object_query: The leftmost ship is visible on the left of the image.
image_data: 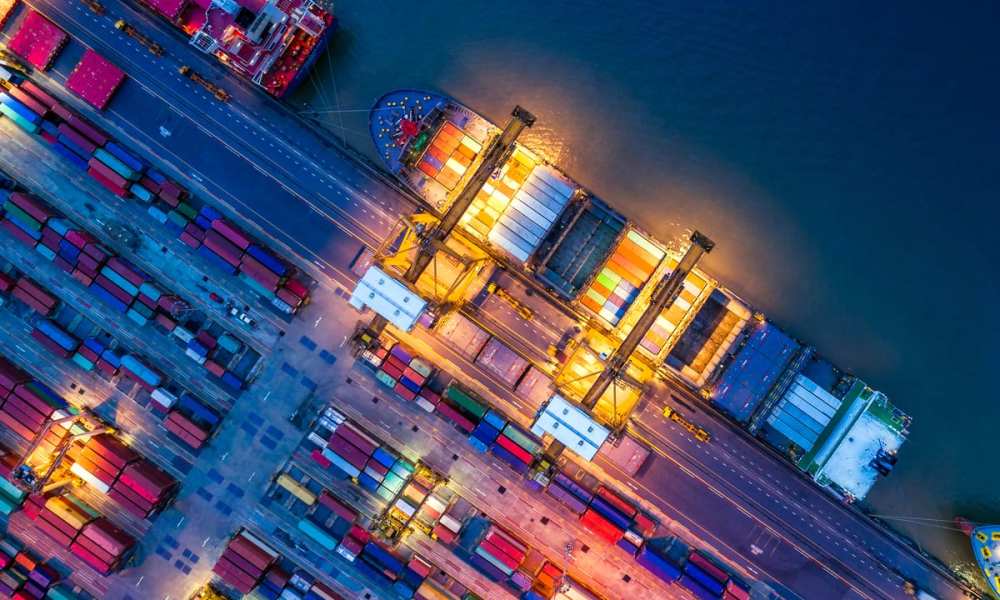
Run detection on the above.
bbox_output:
[145,0,337,98]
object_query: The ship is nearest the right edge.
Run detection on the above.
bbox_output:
[941,517,1000,598]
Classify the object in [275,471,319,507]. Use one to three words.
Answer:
shipping container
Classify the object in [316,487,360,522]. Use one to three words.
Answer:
shipping container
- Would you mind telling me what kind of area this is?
port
